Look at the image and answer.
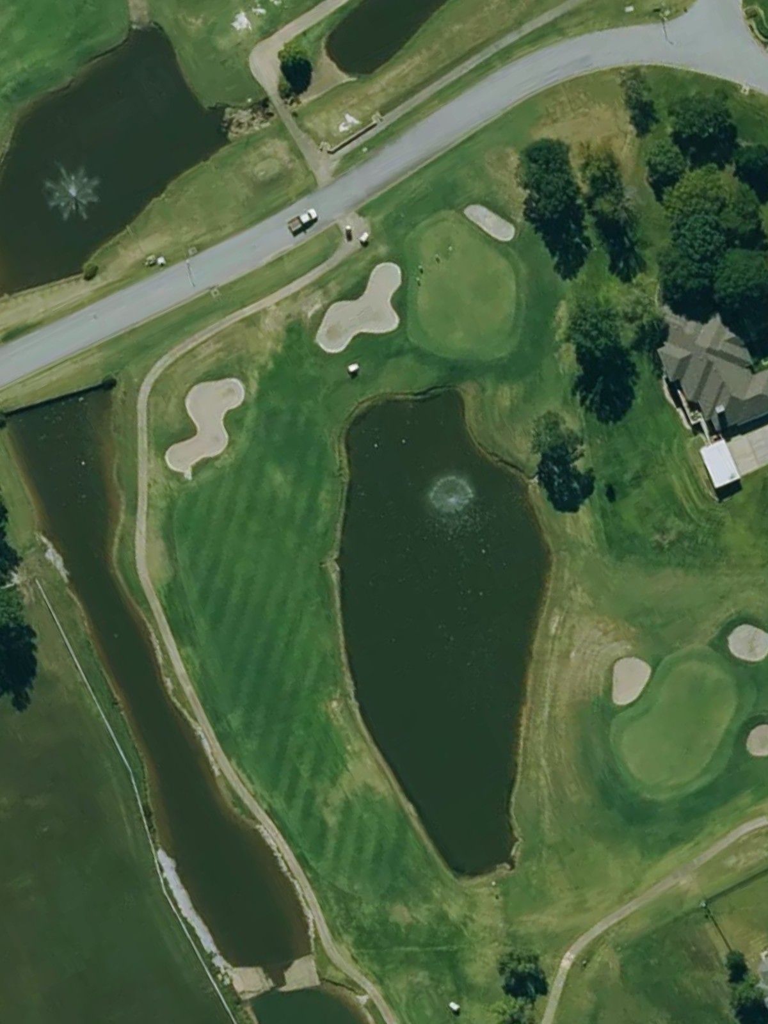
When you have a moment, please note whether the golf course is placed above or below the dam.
above it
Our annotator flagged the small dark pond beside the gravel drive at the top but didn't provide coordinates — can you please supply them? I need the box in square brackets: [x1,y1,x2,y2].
[326,0,448,76]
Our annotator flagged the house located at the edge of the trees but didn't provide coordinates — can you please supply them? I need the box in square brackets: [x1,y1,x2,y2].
[660,308,768,431]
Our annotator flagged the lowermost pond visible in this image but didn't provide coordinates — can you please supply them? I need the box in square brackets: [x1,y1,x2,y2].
[243,983,367,1024]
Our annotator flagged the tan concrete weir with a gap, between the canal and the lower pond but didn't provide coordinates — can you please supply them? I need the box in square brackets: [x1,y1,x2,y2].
[233,954,320,1000]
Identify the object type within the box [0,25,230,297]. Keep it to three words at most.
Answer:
pond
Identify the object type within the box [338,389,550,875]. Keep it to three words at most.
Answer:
pond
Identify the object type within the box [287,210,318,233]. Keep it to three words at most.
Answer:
truck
